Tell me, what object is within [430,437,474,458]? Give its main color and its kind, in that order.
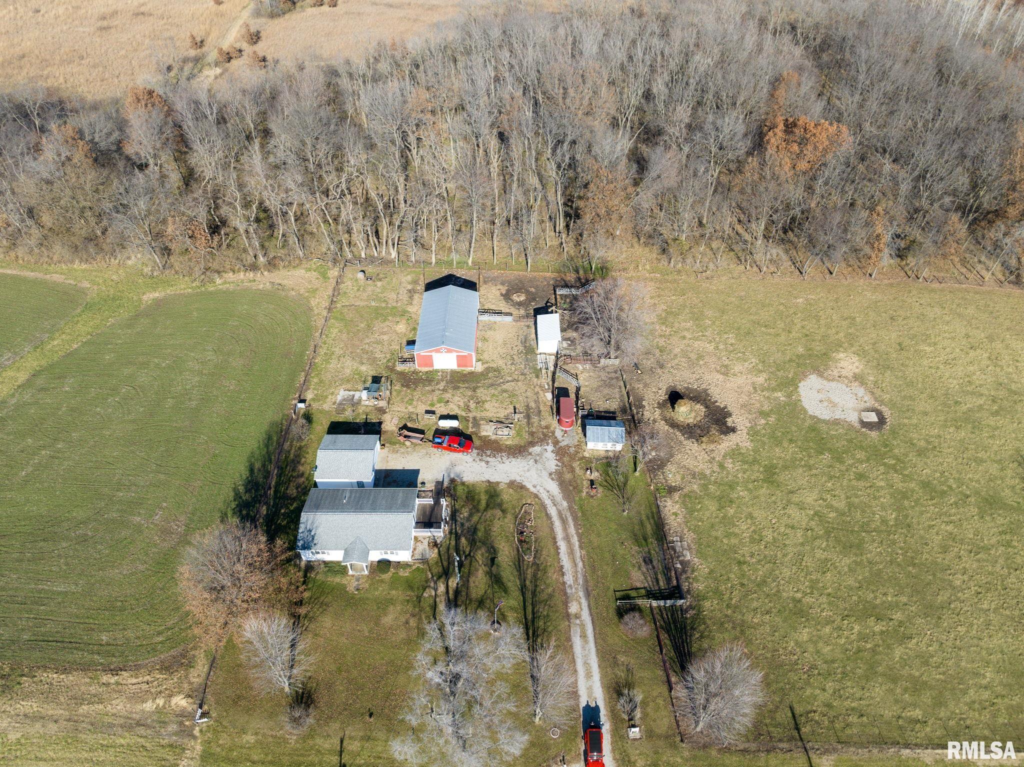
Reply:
red truck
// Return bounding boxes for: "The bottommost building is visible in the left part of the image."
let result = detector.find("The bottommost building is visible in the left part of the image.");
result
[295,488,418,575]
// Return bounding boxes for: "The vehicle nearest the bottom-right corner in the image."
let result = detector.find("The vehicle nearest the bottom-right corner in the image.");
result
[584,730,606,767]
